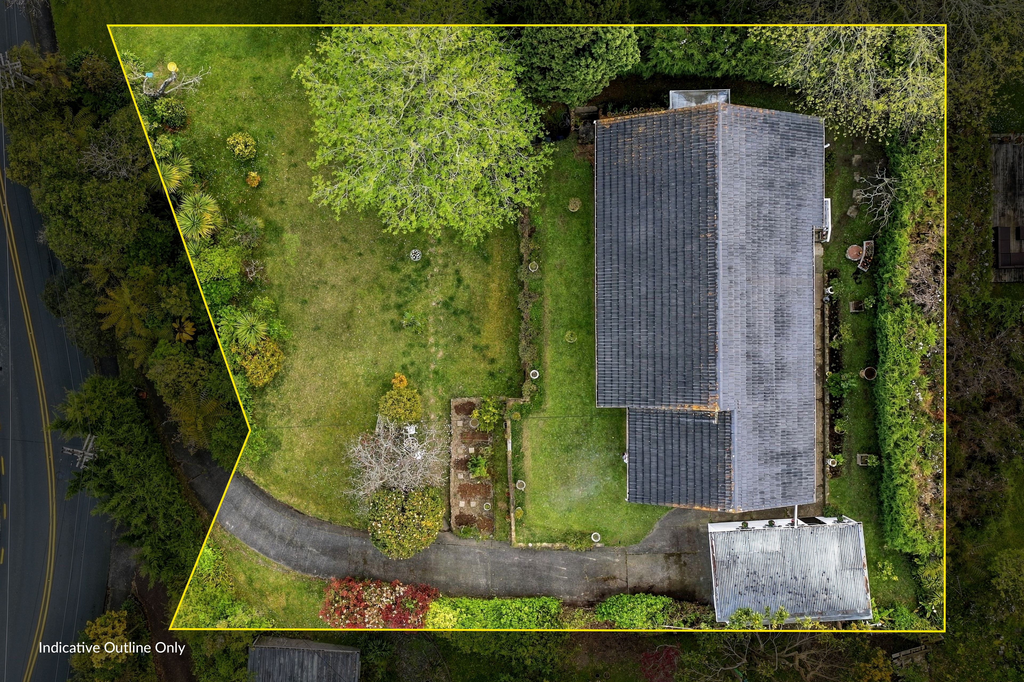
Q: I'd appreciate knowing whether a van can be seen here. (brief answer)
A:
No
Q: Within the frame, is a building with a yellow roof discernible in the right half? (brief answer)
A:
No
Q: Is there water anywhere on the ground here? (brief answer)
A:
No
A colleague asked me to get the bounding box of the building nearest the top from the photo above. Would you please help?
[593,91,831,530]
